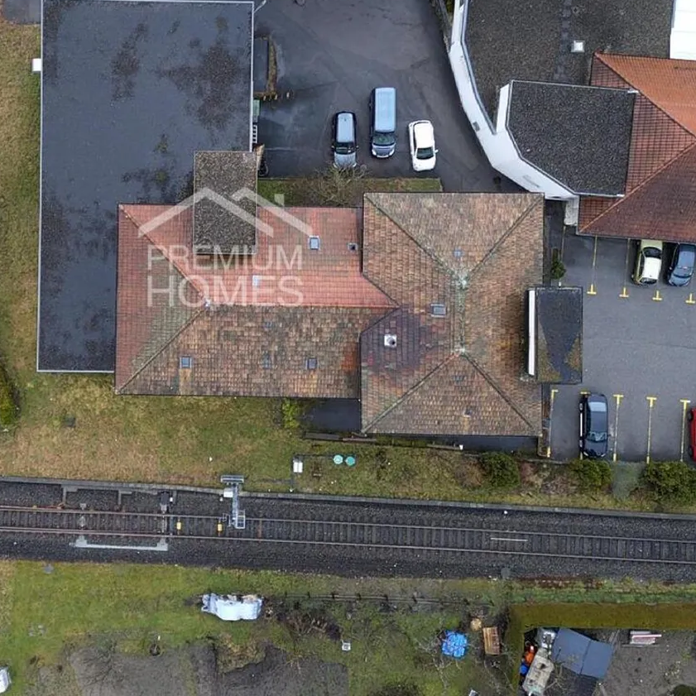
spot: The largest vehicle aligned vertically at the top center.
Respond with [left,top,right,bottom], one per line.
[367,86,399,158]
